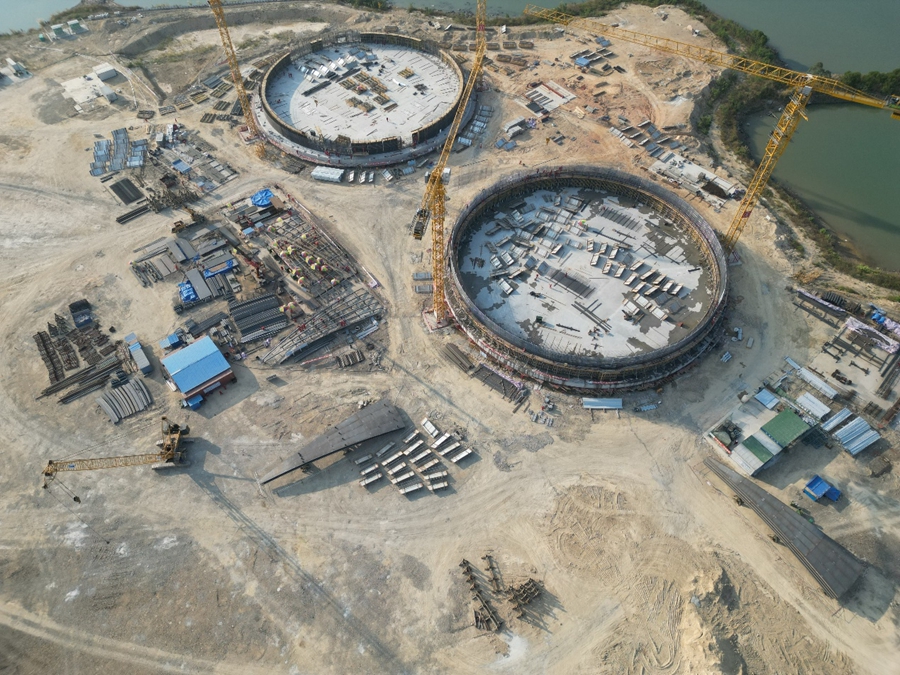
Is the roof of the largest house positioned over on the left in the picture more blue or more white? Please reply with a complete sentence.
In this view, the roof of the largest house positioned over on the left is blue.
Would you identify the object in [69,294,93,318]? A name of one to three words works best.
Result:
shed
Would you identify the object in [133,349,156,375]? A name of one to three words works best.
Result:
shed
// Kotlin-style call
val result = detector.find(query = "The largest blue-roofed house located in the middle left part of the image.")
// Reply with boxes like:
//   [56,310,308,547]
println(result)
[162,337,233,398]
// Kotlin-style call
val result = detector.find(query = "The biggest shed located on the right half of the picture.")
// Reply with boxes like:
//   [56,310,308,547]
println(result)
[726,410,811,480]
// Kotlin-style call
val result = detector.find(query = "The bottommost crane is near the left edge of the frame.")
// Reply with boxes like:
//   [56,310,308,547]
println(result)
[43,417,195,532]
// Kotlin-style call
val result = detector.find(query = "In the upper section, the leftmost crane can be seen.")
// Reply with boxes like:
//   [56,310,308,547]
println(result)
[166,201,204,235]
